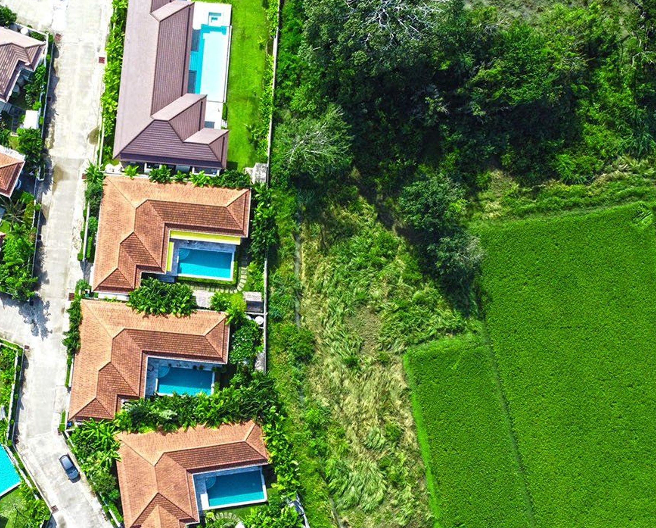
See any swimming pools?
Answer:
Yes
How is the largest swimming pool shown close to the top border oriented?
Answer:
from top to bottom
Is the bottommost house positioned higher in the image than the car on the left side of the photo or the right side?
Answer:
left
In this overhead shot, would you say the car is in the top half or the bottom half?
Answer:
bottom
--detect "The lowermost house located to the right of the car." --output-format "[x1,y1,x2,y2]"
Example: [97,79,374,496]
[114,415,270,528]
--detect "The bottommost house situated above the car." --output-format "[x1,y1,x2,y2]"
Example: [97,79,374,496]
[69,298,232,425]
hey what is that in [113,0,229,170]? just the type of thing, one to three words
house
